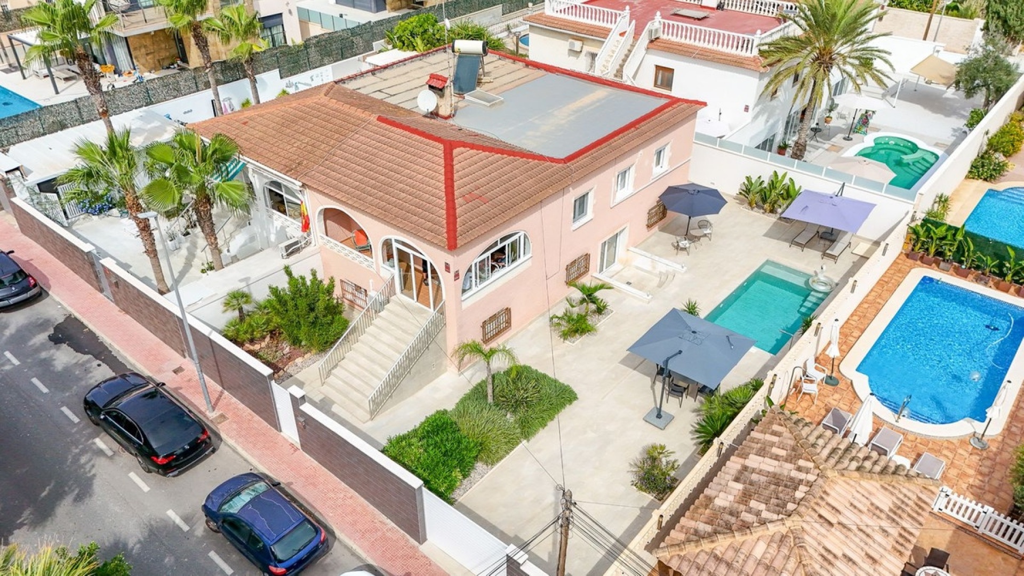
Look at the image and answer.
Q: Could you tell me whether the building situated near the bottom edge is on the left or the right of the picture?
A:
right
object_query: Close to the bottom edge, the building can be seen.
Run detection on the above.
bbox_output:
[646,396,950,576]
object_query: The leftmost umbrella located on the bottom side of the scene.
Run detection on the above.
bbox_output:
[627,308,758,428]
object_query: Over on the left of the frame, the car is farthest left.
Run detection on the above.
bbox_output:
[0,248,31,307]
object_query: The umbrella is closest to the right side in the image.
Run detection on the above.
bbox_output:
[968,379,1011,450]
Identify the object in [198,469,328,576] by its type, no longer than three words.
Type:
car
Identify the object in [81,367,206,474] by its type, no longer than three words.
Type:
car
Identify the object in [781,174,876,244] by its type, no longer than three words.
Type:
umbrella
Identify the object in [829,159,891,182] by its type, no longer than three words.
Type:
umbrella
